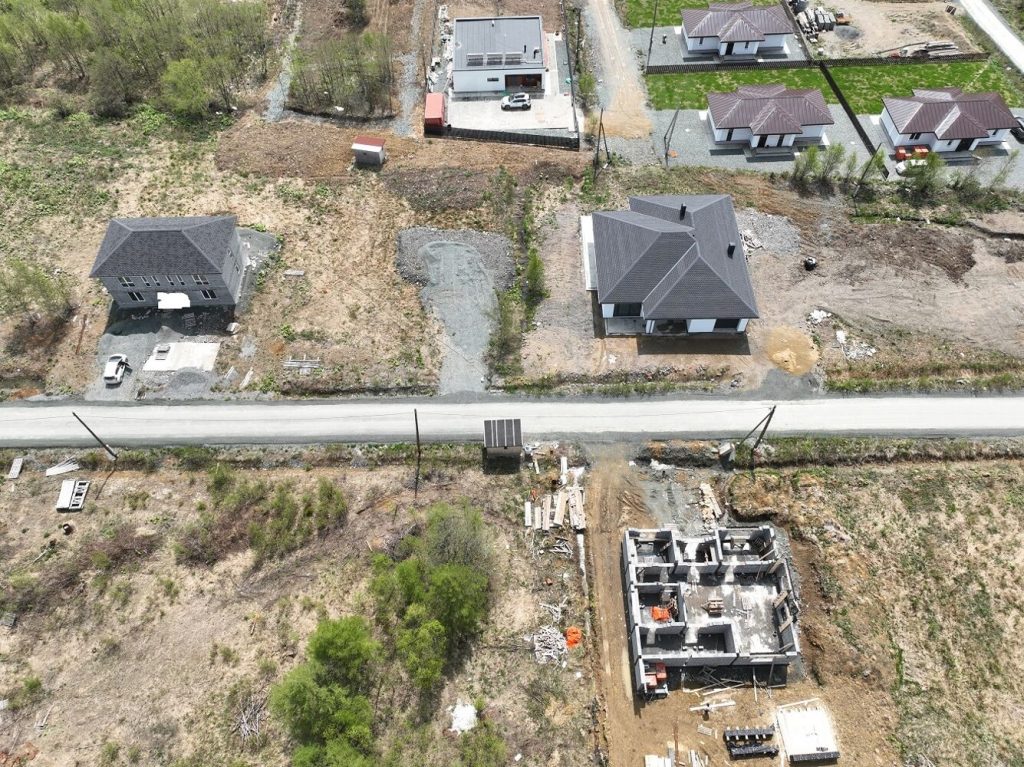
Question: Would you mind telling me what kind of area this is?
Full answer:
The area seen from above is a residential area.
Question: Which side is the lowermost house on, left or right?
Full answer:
The lowermost house sits on the right side.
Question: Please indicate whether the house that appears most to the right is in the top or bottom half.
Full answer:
The house that appears most to the right sits in the top half of the picture.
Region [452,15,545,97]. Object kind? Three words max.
house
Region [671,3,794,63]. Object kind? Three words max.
house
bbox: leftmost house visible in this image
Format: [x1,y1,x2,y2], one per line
[87,215,252,311]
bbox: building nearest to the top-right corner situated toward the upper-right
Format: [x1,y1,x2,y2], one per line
[864,89,1024,163]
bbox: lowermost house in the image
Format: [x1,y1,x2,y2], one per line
[623,526,801,695]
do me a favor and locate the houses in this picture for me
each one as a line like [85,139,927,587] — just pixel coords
[695,85,836,157]
[87,215,252,311]
[864,89,1024,163]
[452,15,545,97]
[623,526,801,695]
[584,194,765,337]
[671,3,794,63]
